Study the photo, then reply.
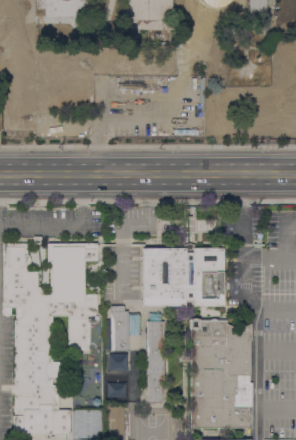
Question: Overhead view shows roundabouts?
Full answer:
No, there's no roundabout here.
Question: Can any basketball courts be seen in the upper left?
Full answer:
No, no basketball court is visible in the upper left.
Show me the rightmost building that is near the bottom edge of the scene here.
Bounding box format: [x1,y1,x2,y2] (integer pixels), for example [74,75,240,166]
[188,319,252,426]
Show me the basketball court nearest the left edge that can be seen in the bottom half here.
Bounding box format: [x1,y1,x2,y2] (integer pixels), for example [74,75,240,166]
[74,410,102,440]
